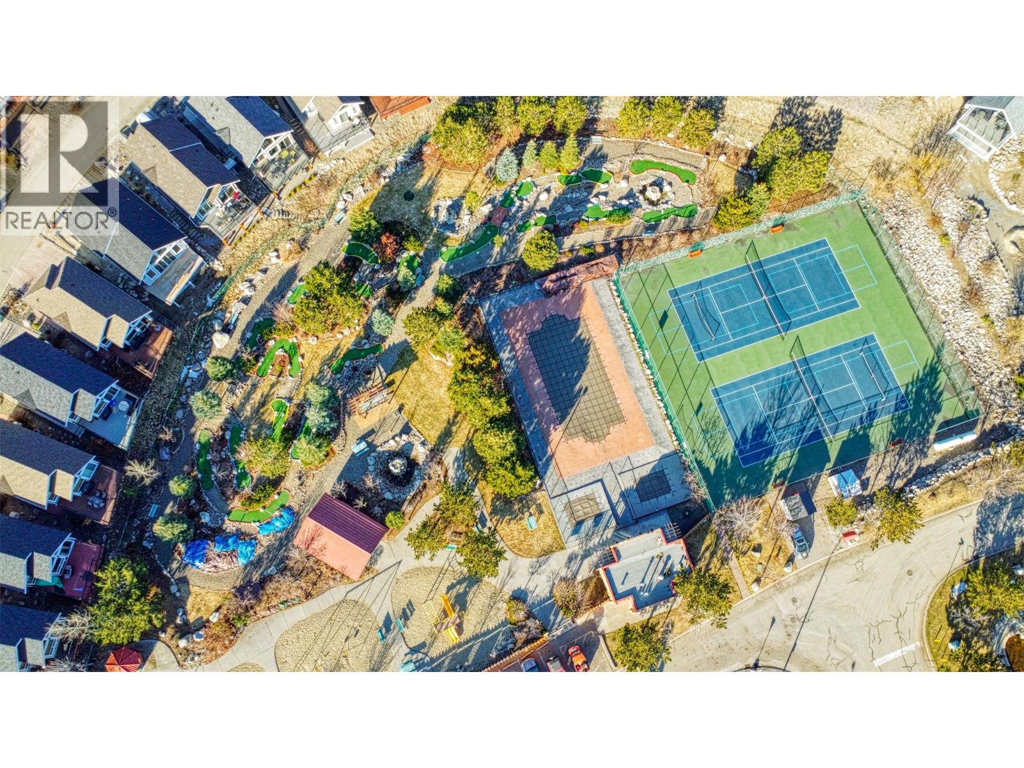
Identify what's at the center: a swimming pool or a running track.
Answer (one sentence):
Looking at the center, you will find a swimming pool.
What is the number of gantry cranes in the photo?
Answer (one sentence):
There are no gantry cranes in the image.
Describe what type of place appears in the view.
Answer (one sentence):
This looks like a residential area.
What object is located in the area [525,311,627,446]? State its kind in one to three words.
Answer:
swimming pool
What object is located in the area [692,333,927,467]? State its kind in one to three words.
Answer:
tennis court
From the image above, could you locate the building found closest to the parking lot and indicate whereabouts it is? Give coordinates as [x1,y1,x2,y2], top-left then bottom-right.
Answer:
[595,522,690,610]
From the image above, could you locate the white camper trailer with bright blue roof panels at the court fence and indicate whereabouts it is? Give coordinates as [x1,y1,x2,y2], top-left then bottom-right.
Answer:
[818,464,868,505]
